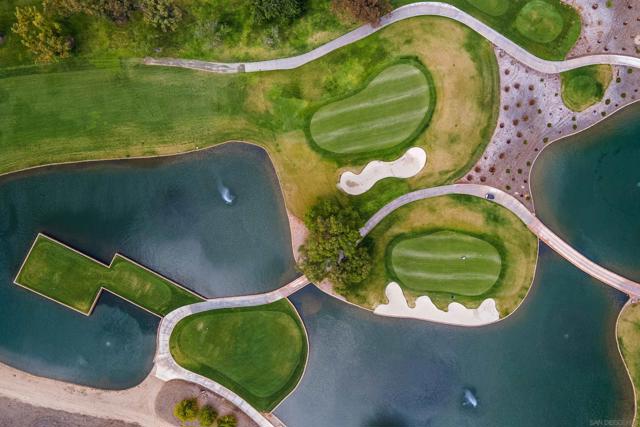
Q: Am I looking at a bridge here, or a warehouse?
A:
bridge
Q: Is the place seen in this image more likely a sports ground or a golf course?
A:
golf course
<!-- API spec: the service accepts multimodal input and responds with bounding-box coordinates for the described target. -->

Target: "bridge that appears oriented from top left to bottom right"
[533,214,638,298]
